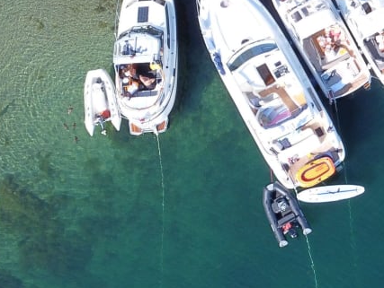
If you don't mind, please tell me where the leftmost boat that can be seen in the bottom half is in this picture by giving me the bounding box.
[265,183,306,244]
